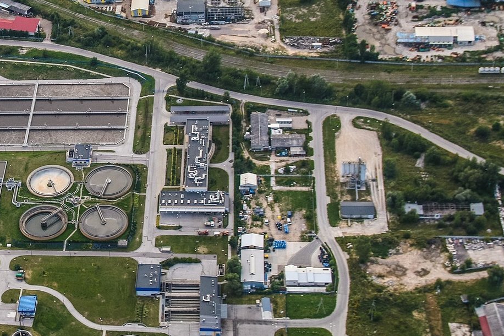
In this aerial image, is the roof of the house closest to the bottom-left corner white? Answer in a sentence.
No, the roof of the house closest to the bottom-left corner is actually blue.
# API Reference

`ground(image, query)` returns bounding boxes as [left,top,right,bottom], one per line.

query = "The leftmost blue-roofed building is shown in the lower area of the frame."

[17,296,39,318]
